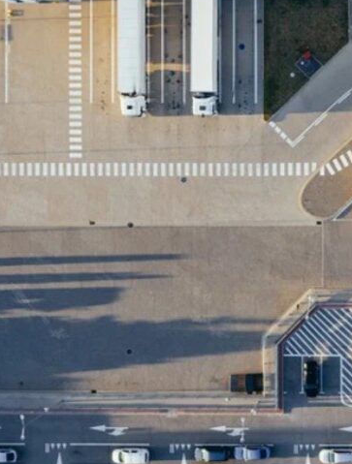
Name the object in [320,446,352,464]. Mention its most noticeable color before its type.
white car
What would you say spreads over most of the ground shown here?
paved ground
